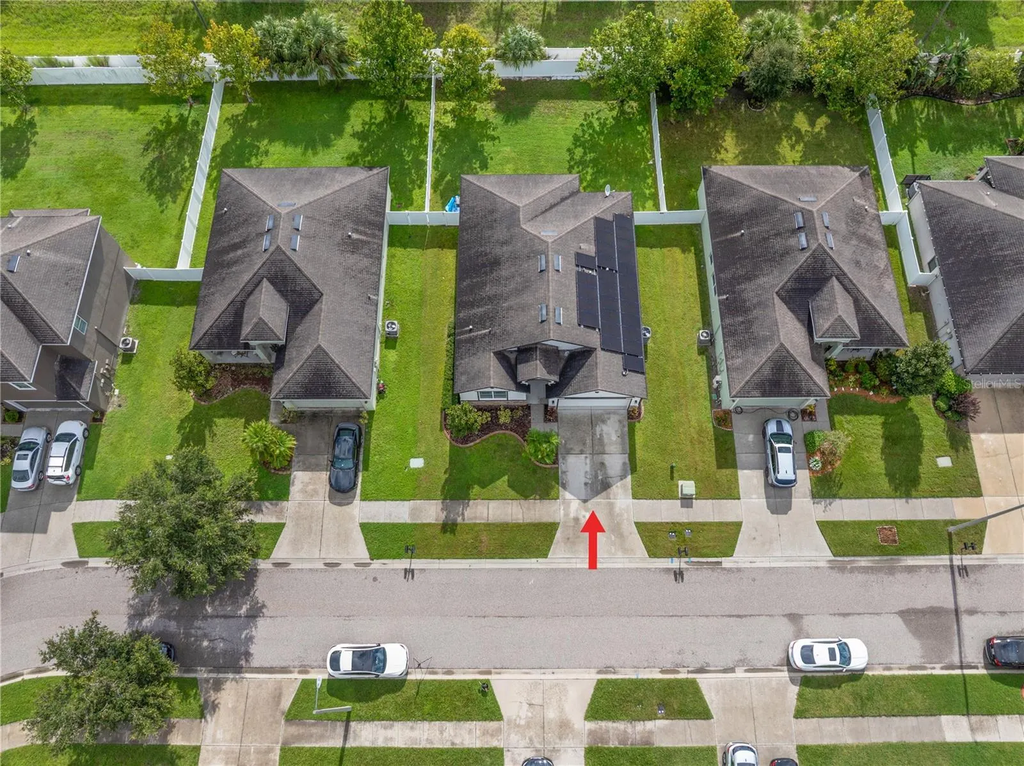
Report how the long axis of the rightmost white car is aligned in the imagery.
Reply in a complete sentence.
In this picture, the rightmost white car is oriented horizontally.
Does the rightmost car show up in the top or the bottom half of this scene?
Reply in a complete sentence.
The bottom half of the photo is where the rightmost car is.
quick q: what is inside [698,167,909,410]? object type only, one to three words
house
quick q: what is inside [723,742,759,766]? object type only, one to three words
car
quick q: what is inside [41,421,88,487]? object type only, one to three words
car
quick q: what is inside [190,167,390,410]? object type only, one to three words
house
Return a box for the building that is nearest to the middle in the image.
[454,174,647,408]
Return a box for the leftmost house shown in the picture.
[0,208,137,412]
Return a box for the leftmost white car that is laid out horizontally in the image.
[326,641,409,681]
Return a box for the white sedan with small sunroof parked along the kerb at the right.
[785,637,869,674]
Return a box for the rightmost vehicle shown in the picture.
[980,636,1024,669]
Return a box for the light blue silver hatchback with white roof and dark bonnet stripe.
[763,418,799,487]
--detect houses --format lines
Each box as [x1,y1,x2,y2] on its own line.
[454,174,647,408]
[0,208,137,412]
[698,167,909,410]
[190,167,390,410]
[903,157,1024,385]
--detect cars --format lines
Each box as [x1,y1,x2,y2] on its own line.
[723,742,759,766]
[980,636,1024,669]
[763,418,799,487]
[328,421,363,493]
[326,641,409,681]
[41,421,88,487]
[523,757,553,766]
[767,757,801,766]
[785,637,869,674]
[9,427,53,491]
